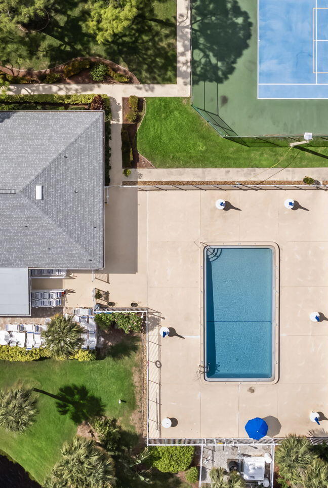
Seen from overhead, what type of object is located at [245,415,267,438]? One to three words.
umbrella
